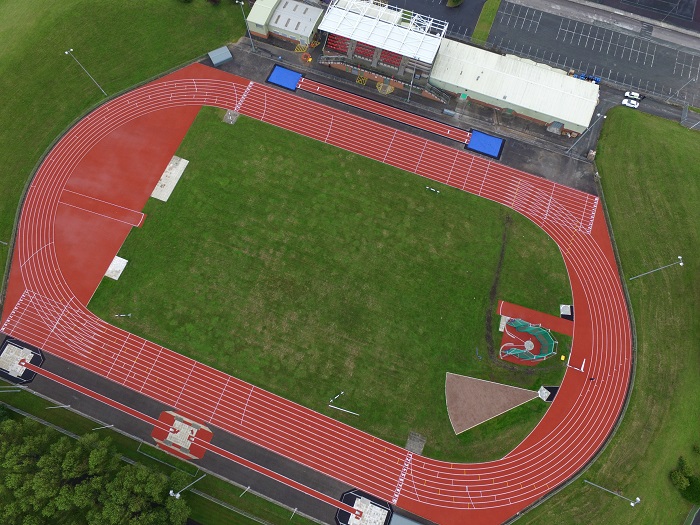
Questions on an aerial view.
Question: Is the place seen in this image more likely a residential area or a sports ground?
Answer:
sports ground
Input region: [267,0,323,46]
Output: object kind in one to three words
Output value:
building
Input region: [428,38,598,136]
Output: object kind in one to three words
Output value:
building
